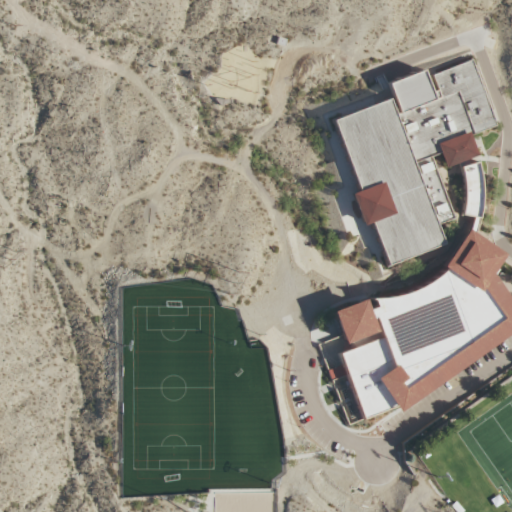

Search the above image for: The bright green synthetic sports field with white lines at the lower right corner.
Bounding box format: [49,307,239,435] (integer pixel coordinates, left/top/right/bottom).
[459,392,512,512]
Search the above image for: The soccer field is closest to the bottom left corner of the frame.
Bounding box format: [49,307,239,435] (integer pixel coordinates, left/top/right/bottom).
[124,278,284,496]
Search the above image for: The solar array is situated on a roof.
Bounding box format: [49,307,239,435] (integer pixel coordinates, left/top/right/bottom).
[390,296,464,354]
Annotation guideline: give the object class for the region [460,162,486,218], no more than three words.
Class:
building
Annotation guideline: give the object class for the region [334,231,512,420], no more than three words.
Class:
building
